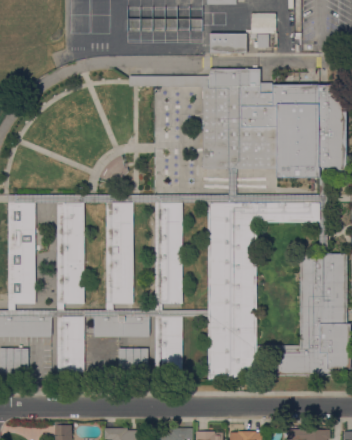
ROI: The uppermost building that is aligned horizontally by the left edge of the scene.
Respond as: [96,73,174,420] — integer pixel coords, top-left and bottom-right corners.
[0,317,52,338]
